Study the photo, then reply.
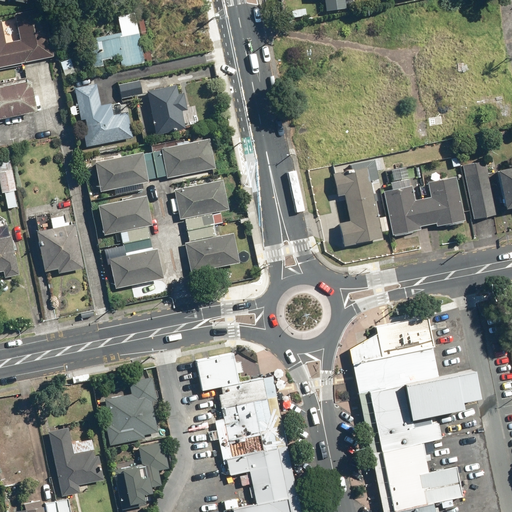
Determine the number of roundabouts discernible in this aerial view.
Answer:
one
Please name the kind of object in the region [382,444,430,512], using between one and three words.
building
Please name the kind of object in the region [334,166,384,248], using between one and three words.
house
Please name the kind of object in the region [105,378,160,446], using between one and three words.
house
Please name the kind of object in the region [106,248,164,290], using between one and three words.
building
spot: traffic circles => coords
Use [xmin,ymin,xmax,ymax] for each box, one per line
[276,284,331,340]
